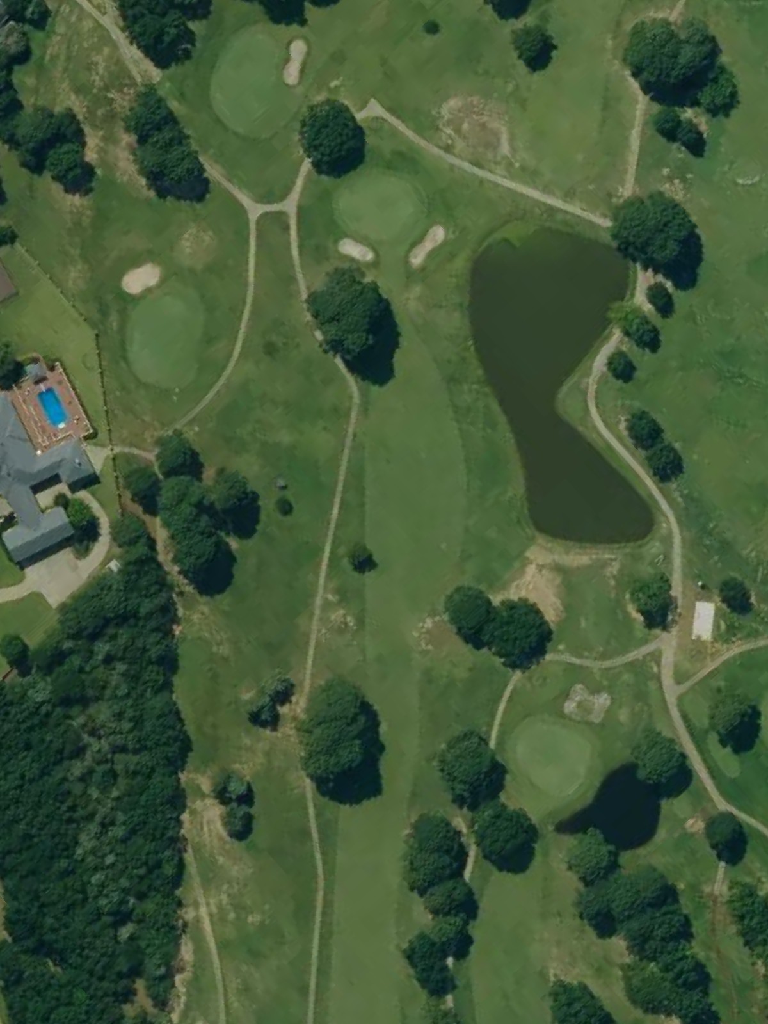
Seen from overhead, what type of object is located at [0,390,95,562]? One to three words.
house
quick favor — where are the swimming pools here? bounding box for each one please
[34,385,69,429]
